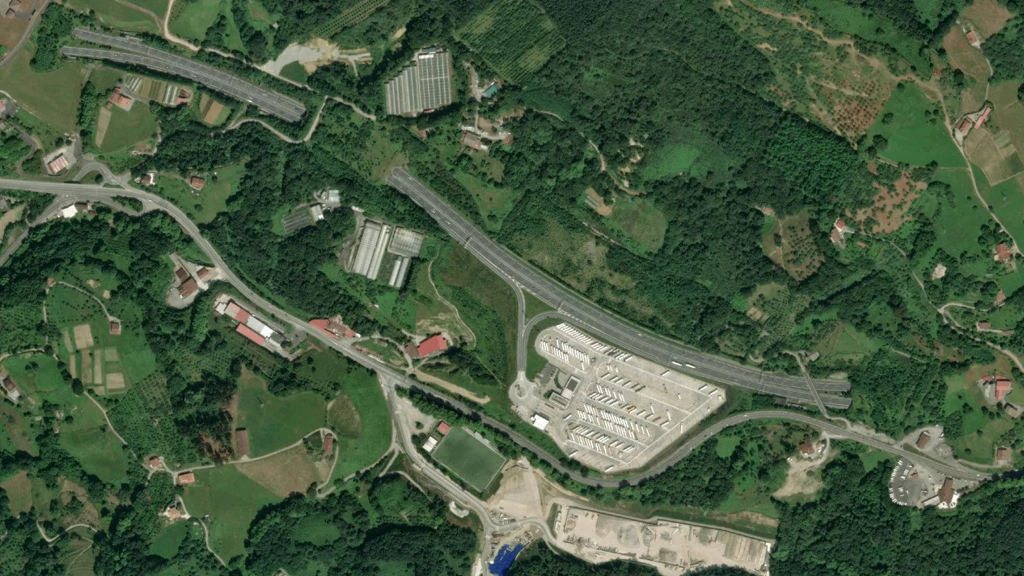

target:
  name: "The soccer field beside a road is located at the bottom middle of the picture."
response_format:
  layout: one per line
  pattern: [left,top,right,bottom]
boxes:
[431,426,506,490]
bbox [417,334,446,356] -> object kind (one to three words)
barn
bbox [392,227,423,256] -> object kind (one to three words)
greenhouse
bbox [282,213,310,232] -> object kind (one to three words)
house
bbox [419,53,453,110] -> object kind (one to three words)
greenhouse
